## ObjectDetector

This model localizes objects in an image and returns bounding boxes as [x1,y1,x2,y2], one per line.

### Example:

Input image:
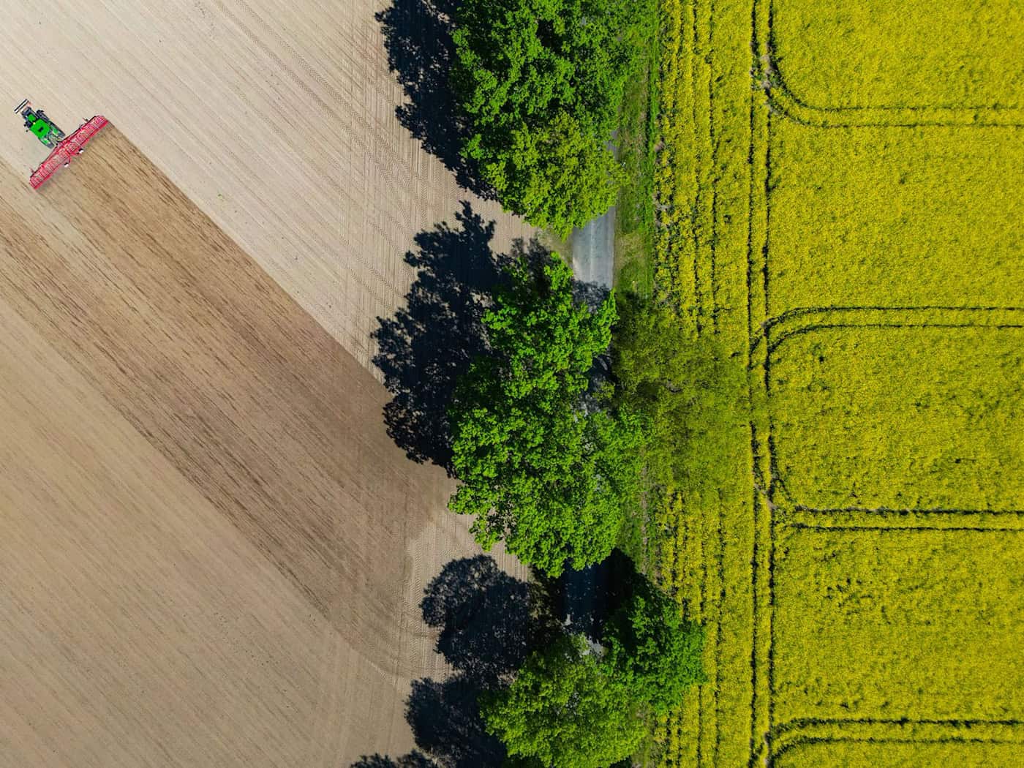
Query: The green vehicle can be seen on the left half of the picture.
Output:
[14,100,65,151]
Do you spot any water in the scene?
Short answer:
No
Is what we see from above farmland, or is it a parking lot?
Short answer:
farmland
